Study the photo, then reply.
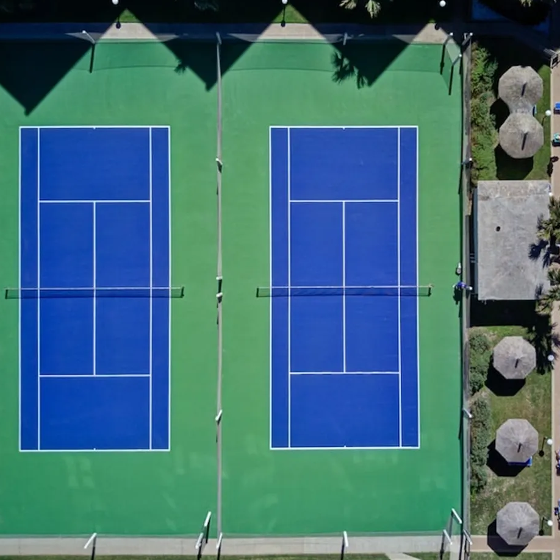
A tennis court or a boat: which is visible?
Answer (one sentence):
It is a tennis court that can be seen here.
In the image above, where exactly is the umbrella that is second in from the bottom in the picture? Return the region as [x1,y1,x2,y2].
[498,421,537,461]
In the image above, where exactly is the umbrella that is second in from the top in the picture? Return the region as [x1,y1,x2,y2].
[501,116,542,154]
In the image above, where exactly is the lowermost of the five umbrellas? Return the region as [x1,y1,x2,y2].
[498,504,537,545]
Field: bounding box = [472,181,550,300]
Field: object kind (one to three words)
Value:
shed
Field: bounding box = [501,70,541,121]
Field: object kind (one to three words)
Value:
umbrella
